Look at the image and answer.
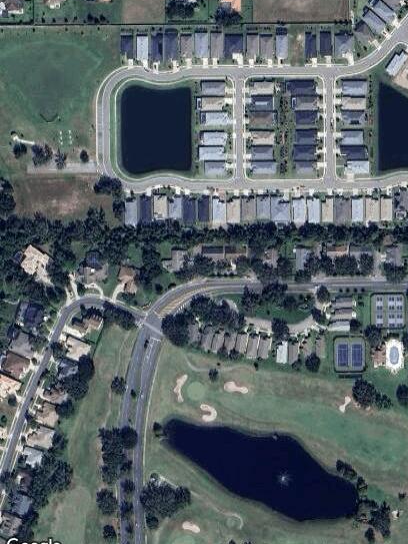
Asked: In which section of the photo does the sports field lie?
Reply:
top left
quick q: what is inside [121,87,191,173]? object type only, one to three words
pond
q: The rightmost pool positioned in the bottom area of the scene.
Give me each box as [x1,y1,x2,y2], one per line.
[386,338,403,373]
